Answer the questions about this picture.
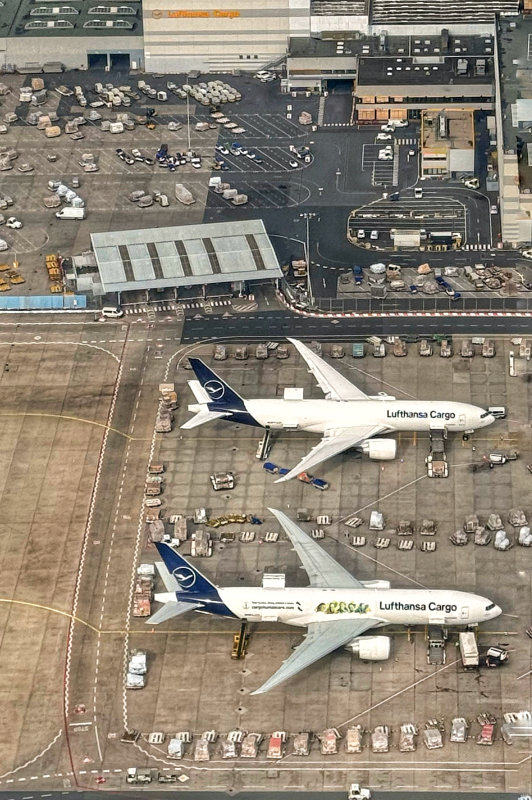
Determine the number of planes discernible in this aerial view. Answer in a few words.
2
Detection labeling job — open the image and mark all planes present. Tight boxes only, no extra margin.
[146,509,502,694]
[181,338,495,483]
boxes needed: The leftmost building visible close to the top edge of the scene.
[0,0,142,71]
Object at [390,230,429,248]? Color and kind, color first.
white vehicle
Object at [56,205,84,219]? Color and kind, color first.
white vehicle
